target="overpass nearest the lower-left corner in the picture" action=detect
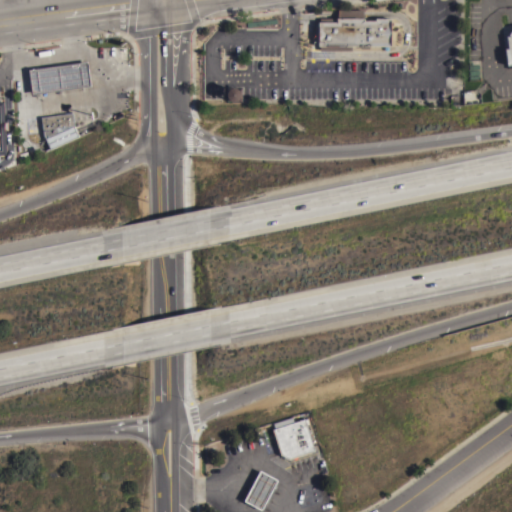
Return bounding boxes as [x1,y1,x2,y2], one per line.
[104,306,238,368]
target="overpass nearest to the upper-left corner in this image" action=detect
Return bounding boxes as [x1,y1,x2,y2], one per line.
[102,202,237,266]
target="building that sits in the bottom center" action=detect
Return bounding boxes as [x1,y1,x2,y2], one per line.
[274,413,316,461]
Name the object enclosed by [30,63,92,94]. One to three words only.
building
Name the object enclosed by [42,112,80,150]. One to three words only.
building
